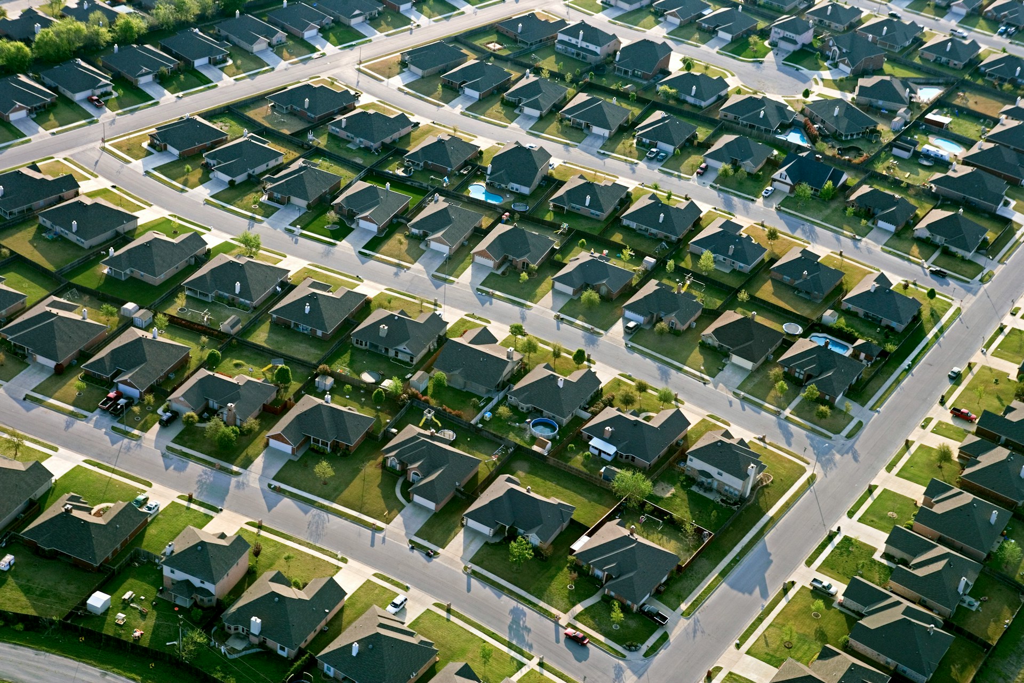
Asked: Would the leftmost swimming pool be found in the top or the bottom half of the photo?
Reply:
top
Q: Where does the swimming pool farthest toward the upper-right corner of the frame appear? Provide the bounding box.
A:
[913,85,946,101]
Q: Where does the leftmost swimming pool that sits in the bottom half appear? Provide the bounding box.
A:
[532,421,558,440]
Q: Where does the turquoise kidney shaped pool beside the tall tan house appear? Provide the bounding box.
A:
[464,182,507,204]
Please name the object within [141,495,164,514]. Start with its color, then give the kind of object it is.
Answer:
white car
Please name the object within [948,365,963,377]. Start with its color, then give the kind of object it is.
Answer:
white vehicle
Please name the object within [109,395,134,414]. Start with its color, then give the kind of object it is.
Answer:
black vehicle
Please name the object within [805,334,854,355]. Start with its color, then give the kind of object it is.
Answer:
blue swimming pool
